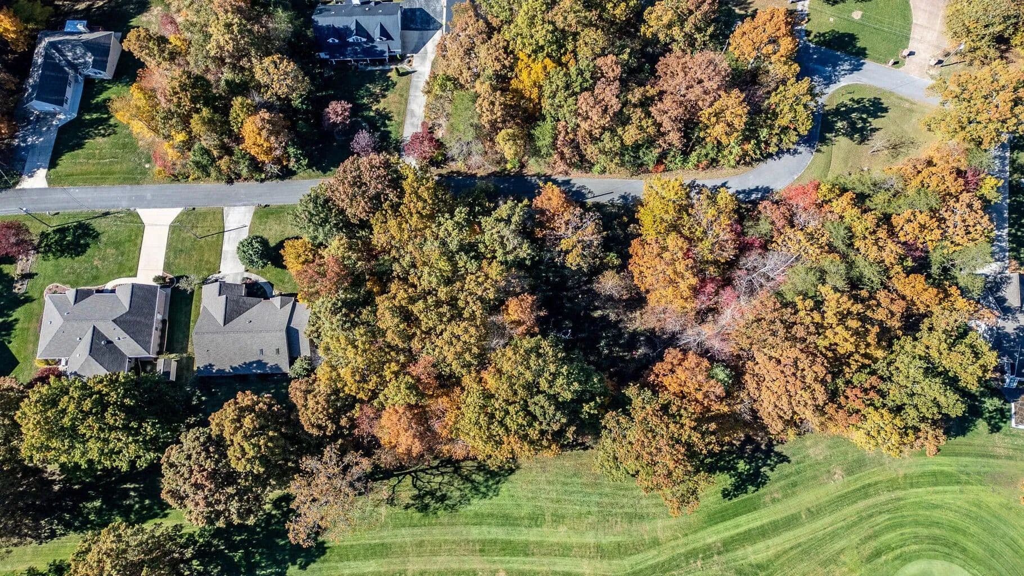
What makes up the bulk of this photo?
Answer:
trees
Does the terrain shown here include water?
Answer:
No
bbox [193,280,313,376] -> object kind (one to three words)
house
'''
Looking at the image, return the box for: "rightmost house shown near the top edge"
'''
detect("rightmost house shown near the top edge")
[312,0,404,64]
